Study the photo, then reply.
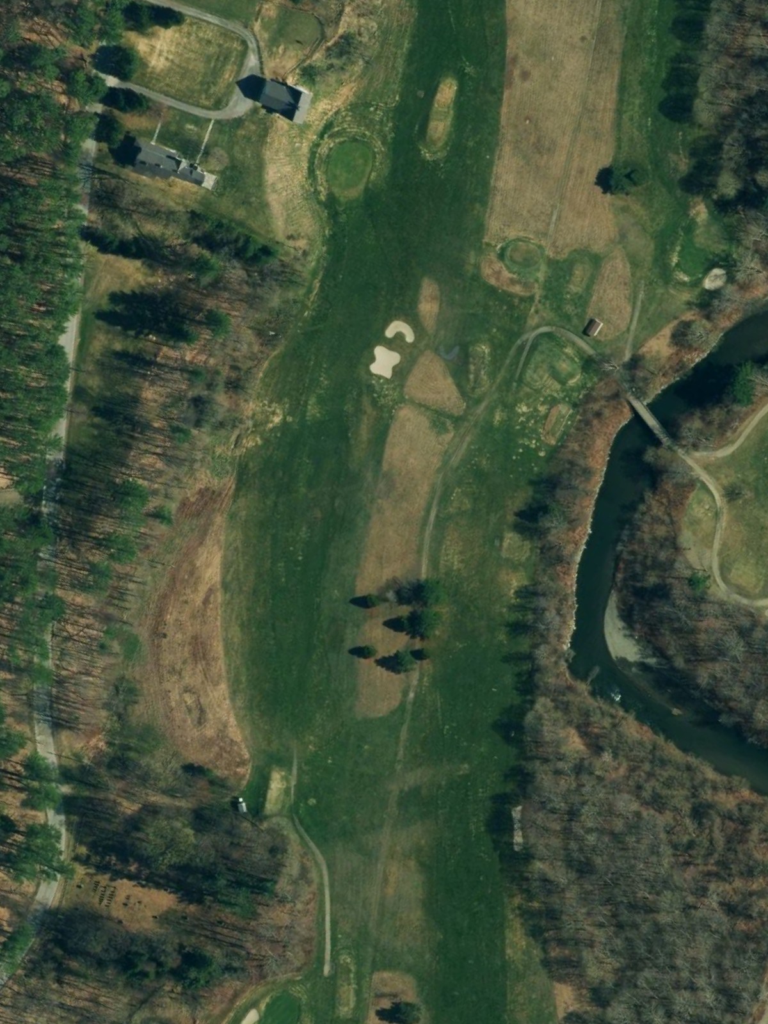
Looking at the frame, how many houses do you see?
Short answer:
2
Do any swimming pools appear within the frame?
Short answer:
No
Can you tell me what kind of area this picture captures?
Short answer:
golf course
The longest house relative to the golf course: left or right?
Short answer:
on the left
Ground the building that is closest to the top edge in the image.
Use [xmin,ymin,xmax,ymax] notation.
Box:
[258,78,315,126]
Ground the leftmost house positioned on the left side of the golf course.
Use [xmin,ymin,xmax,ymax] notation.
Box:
[135,140,217,190]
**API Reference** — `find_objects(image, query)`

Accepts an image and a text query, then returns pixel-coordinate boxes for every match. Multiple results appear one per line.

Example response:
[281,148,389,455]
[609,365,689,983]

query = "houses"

[258,78,315,126]
[135,140,217,190]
